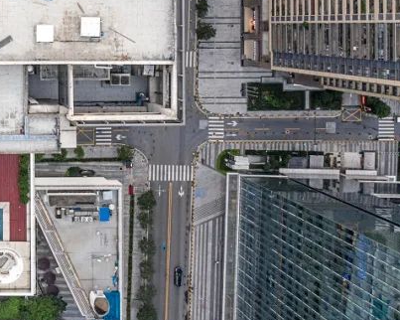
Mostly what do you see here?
buildings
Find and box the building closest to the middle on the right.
[228,155,267,172]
